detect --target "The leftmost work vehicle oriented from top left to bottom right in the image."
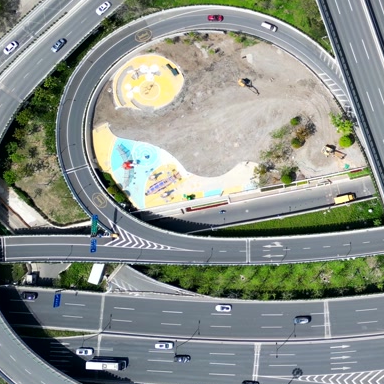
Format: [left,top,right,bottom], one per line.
[237,77,257,92]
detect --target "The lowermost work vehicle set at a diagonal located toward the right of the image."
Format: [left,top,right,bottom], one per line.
[323,143,345,159]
